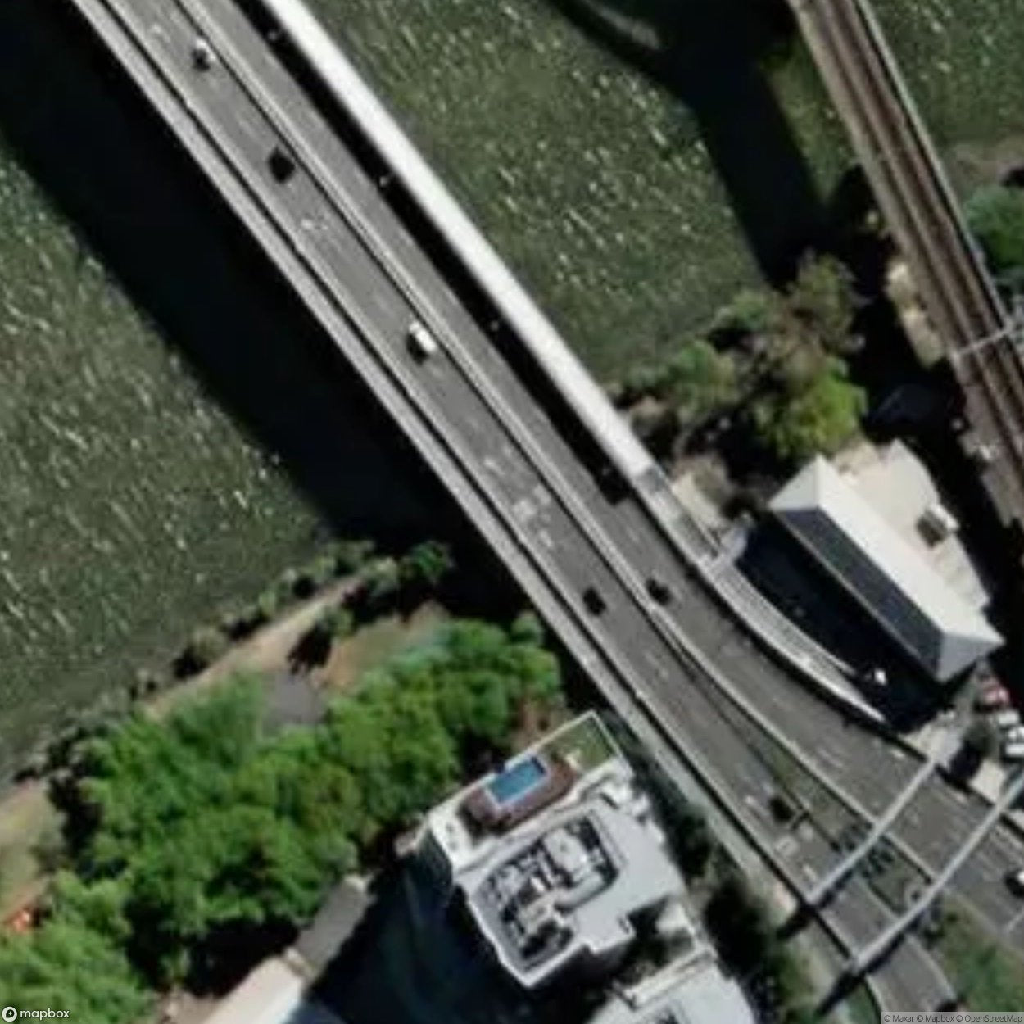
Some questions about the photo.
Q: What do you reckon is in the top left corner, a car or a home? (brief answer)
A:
car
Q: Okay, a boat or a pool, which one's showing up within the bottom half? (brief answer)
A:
pool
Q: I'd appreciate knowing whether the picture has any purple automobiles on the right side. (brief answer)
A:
No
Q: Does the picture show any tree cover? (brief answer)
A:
Yes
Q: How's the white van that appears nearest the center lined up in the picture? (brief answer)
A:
on a diagonal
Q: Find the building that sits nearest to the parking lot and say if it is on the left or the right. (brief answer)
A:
right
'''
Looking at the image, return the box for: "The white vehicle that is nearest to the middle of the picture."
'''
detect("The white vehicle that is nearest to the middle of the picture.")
[406,319,442,359]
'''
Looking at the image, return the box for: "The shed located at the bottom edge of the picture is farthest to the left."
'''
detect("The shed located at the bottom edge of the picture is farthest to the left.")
[201,945,320,1024]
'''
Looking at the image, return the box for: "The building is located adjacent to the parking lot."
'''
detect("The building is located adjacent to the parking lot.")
[767,441,1005,686]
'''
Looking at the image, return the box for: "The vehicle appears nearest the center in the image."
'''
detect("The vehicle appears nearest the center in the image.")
[577,581,612,620]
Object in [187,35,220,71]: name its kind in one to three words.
car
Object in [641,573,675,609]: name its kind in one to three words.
car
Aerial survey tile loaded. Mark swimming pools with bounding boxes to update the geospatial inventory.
[484,756,549,808]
